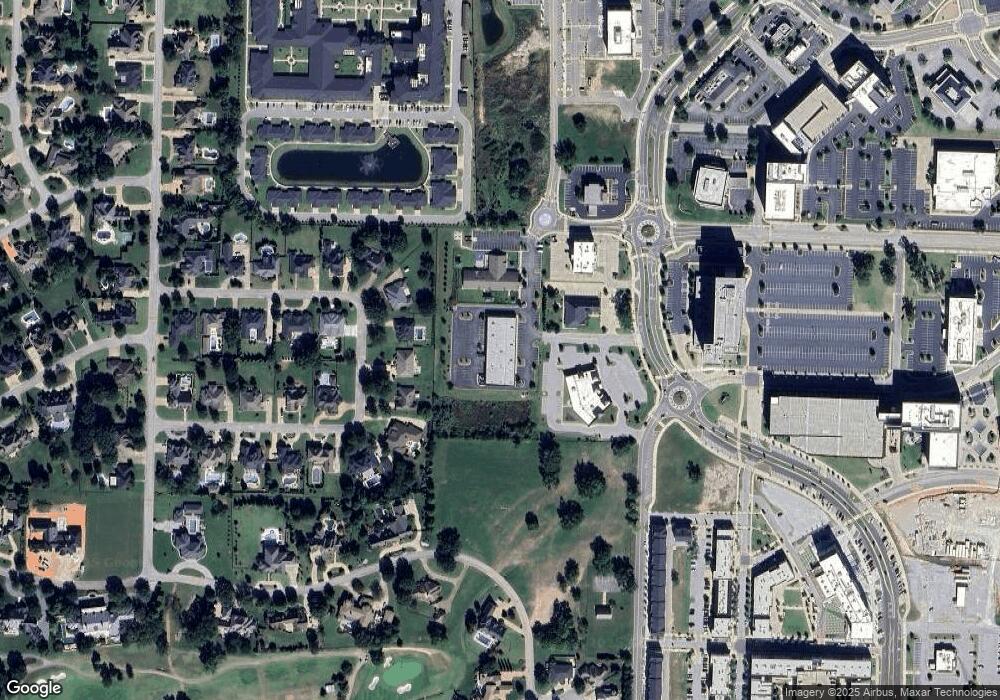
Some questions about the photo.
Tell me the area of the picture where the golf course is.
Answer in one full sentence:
The golf course is located in the bottom left region of the scene.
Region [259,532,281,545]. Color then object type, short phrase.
white swimming pool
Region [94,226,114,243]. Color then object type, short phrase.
white swimming pool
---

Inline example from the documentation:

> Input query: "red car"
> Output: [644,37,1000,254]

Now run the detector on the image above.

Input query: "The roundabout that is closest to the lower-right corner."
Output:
[660,378,700,418]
